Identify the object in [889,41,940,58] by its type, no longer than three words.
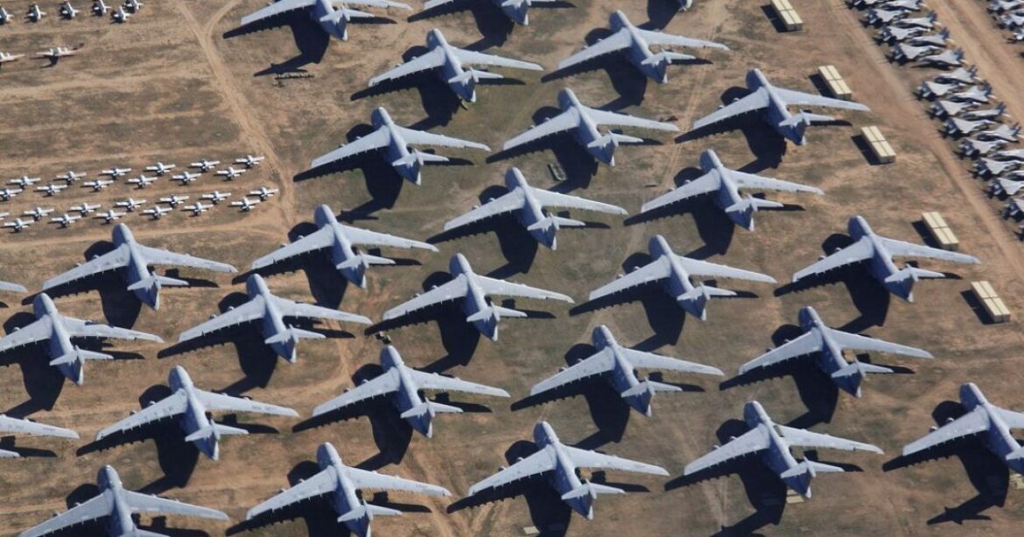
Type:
airplane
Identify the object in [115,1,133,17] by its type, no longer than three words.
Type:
airplane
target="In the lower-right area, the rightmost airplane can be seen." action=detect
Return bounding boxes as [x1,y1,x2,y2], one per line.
[904,385,1024,476]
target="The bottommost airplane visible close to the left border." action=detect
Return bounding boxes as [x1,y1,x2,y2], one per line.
[19,464,228,537]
